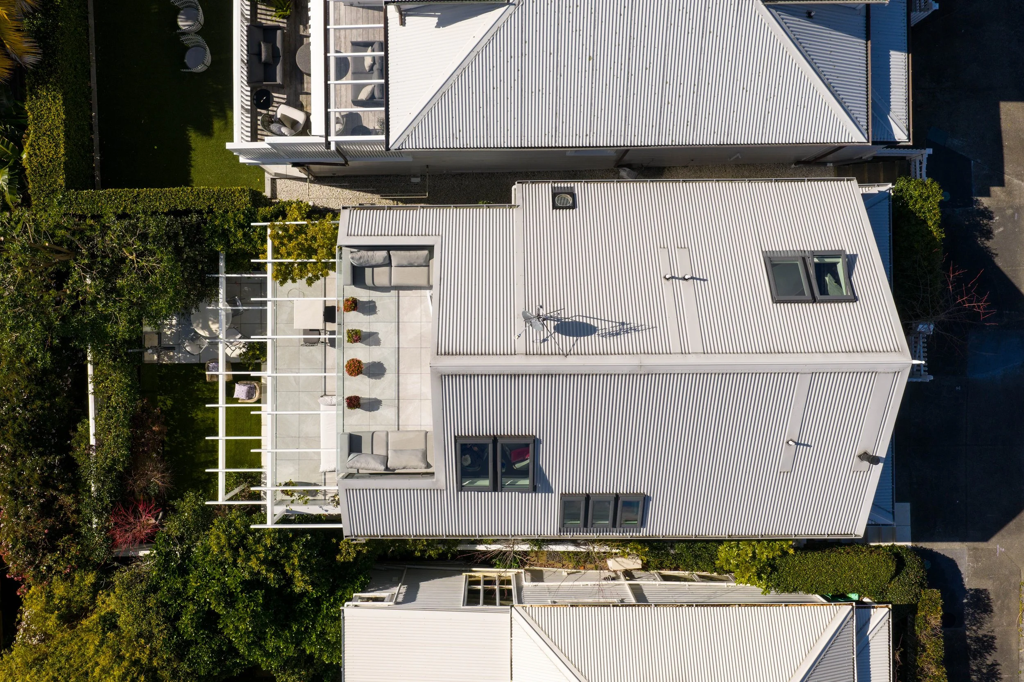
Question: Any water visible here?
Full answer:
No, the picture contains no water.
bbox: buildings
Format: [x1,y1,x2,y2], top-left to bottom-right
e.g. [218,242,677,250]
[341,562,893,682]
[360,0,912,179]
[334,177,928,543]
